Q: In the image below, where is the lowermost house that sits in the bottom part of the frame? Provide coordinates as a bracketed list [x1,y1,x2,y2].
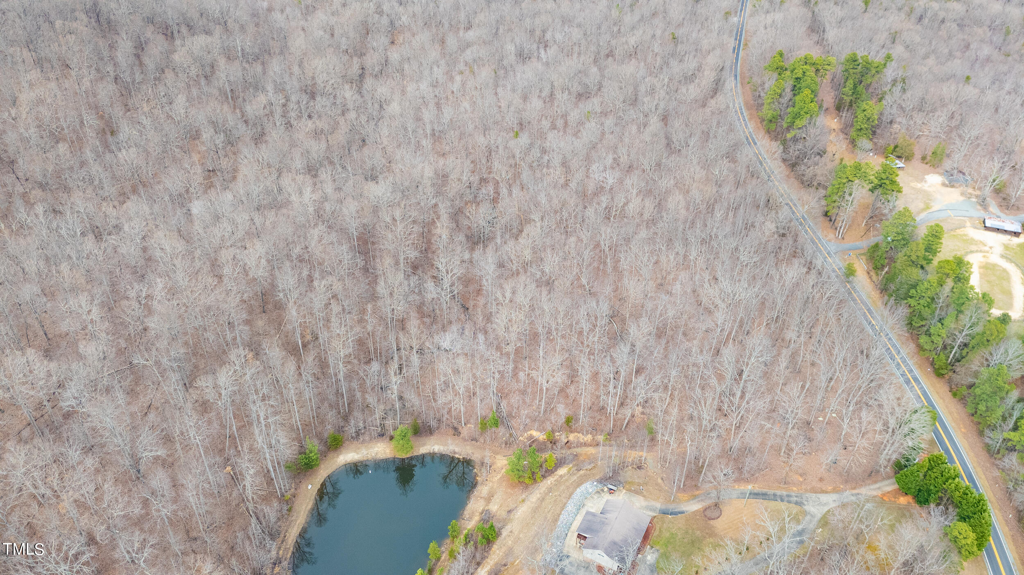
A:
[576,499,648,575]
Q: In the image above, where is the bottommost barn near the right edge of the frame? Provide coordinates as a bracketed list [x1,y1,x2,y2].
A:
[979,215,1021,237]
